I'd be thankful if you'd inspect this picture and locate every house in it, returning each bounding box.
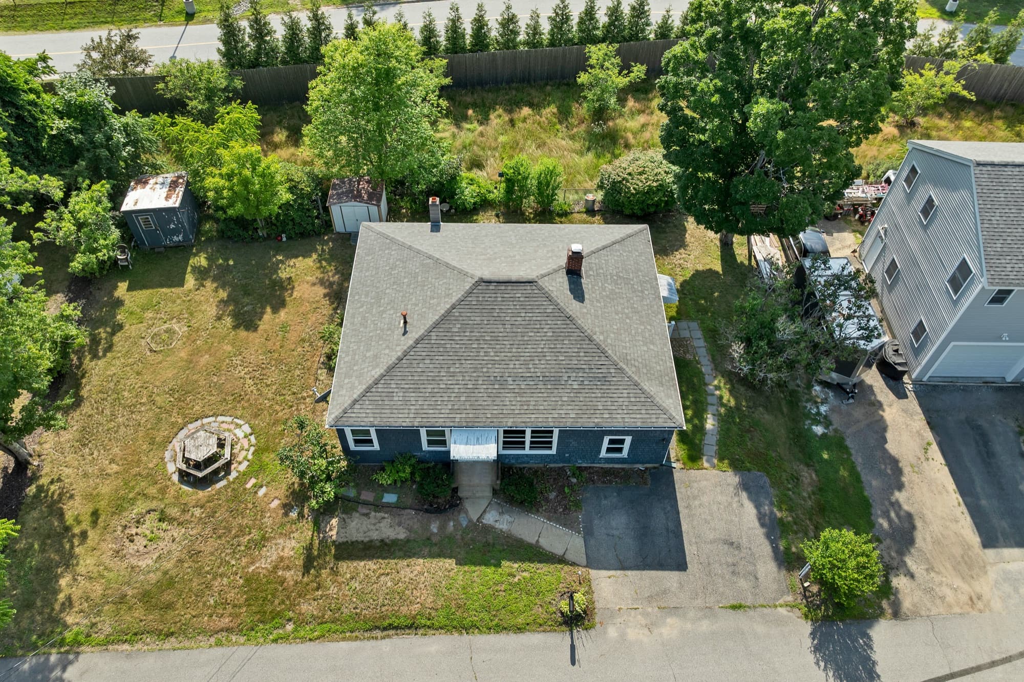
[856,140,1024,388]
[321,194,682,507]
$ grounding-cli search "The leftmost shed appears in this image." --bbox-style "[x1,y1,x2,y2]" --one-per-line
[120,162,203,246]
